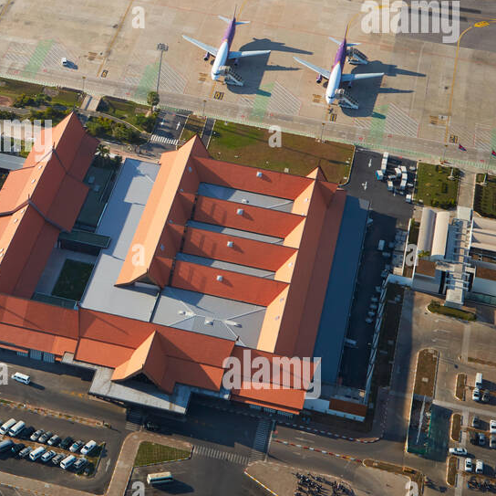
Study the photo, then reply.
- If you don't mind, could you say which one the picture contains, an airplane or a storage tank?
airplane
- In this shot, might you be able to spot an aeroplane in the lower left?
No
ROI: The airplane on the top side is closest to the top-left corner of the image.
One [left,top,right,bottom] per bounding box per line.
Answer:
[181,16,269,80]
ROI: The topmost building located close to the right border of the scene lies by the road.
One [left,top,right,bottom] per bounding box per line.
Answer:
[410,207,496,314]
